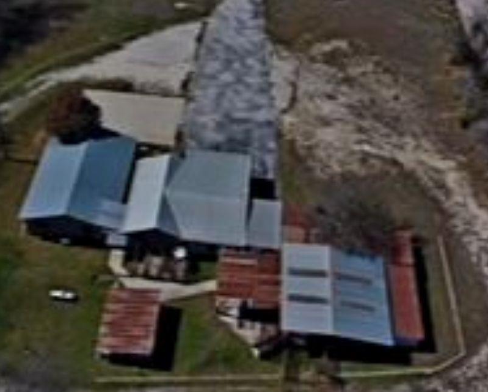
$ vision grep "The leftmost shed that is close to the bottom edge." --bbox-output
[93,287,162,375]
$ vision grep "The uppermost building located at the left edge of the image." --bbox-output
[17,130,141,268]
